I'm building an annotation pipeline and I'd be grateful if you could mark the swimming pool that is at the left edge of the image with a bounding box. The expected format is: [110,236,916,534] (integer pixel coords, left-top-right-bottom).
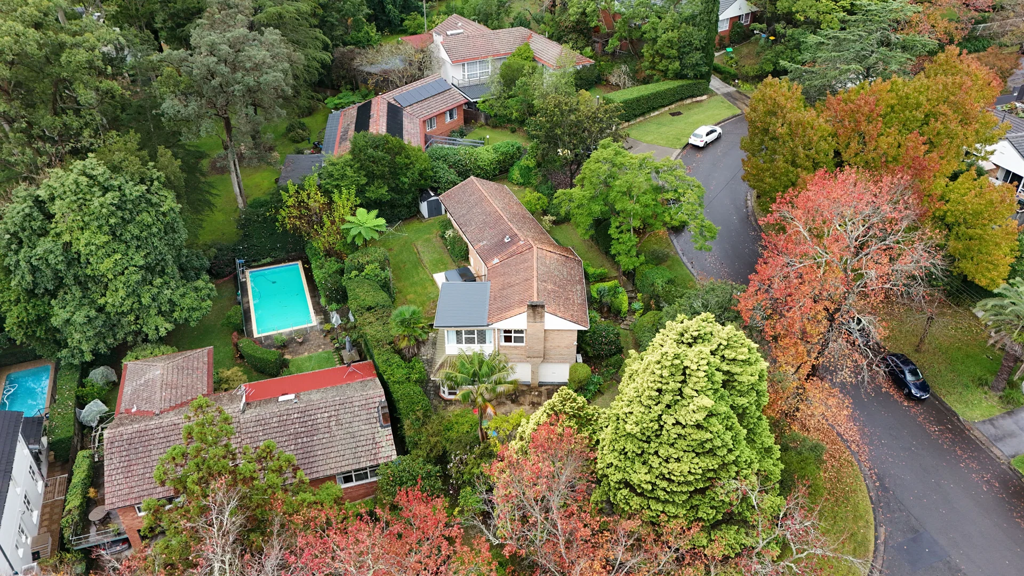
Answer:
[0,354,64,428]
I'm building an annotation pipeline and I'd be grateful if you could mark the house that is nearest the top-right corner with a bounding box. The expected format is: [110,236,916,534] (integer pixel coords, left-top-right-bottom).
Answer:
[975,99,1024,199]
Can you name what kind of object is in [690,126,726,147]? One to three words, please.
car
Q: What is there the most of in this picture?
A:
trees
